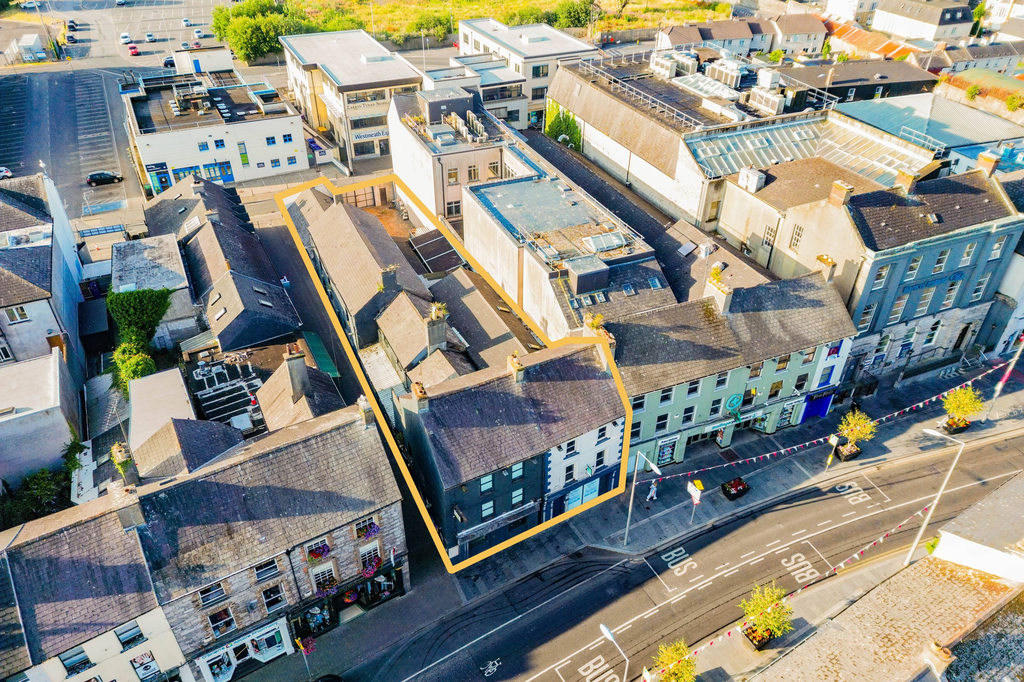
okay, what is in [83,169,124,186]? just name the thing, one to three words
car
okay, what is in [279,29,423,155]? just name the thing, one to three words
building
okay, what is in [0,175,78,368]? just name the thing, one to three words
house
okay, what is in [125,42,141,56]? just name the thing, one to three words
car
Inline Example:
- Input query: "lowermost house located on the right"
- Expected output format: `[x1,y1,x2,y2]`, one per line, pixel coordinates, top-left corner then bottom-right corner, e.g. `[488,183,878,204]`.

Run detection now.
[738,536,1024,682]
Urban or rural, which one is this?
urban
